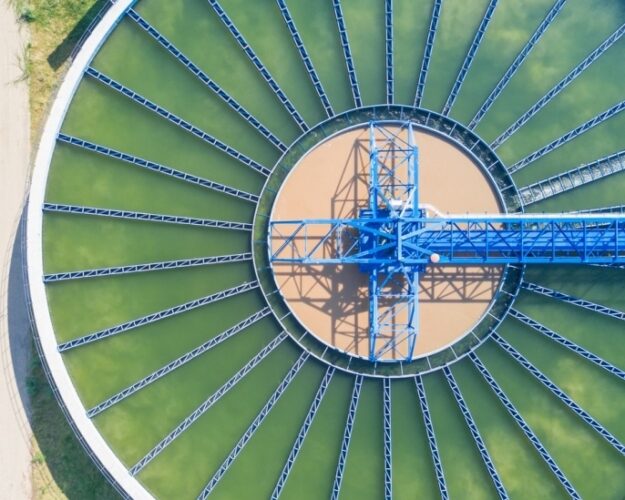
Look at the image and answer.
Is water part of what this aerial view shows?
Yes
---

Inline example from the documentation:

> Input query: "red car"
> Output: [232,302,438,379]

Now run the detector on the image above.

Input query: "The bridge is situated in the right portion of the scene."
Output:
[267,118,625,364]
